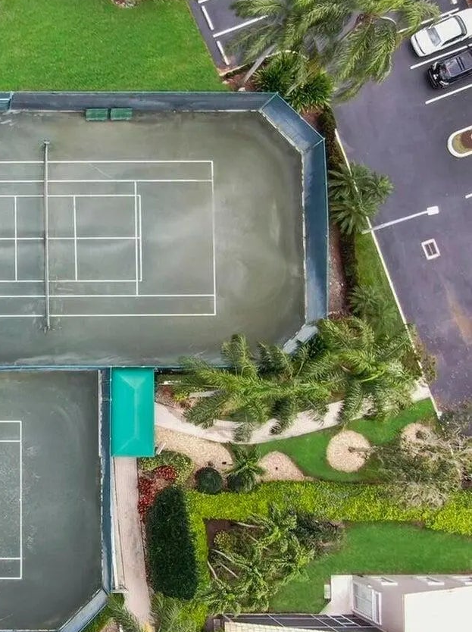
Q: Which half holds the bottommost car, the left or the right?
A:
right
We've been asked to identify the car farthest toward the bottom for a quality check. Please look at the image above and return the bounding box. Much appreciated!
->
[428,47,472,88]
